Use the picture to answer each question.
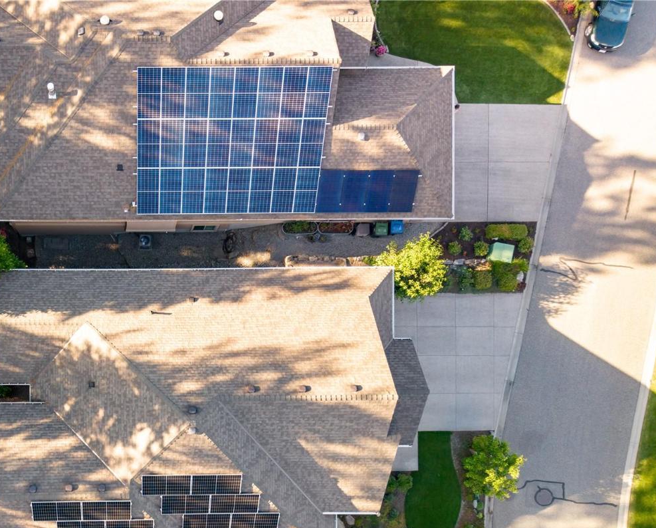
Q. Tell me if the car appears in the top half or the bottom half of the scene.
top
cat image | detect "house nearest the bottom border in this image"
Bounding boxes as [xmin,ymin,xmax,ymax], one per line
[0,265,428,528]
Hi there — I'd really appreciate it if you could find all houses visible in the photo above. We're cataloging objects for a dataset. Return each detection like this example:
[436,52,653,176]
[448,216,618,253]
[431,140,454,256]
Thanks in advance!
[0,0,456,234]
[0,265,428,528]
